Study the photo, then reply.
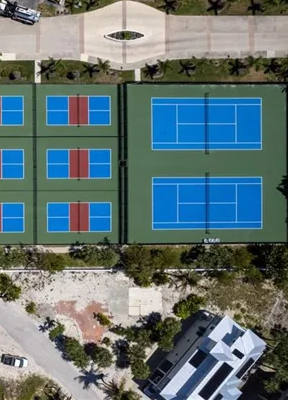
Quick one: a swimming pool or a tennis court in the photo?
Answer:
tennis court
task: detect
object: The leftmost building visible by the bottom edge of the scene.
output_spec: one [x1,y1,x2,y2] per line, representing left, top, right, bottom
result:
[142,307,268,400]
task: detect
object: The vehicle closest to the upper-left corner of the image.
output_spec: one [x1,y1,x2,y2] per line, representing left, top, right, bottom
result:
[0,0,42,26]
